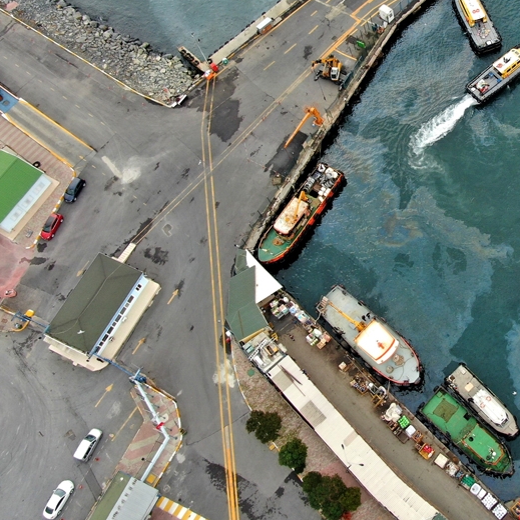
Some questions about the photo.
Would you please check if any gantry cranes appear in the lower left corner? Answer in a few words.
No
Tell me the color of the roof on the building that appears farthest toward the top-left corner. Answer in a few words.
green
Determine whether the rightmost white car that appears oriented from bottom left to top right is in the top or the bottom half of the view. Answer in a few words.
bottom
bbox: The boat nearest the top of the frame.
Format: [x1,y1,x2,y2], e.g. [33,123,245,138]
[450,0,503,57]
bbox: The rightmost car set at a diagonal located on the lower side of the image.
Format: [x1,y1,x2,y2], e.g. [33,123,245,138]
[70,426,105,464]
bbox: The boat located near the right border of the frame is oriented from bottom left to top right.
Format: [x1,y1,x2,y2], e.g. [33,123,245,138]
[465,47,520,106]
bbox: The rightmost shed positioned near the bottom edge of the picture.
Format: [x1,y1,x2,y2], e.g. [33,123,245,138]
[269,360,440,520]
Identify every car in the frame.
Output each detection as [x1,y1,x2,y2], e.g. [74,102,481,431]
[70,426,105,464]
[40,479,77,520]
[40,212,65,241]
[62,174,89,204]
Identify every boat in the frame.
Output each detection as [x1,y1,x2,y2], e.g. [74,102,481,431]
[254,161,345,266]
[418,387,518,481]
[308,288,424,389]
[465,47,520,106]
[450,0,503,57]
